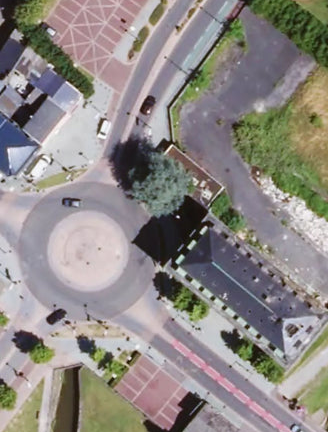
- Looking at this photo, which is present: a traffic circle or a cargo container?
traffic circle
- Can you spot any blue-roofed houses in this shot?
Yes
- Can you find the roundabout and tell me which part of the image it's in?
left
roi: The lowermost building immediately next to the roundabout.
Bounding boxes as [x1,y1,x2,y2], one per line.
[166,210,328,372]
